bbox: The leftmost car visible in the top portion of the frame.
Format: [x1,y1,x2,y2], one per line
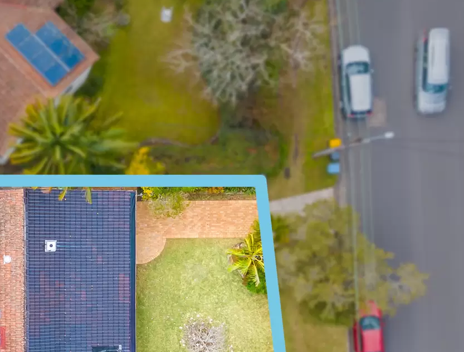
[339,46,376,117]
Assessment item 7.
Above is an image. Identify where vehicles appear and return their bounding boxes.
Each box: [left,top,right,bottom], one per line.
[352,305,387,352]
[339,46,376,117]
[413,30,453,113]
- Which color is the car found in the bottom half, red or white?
red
